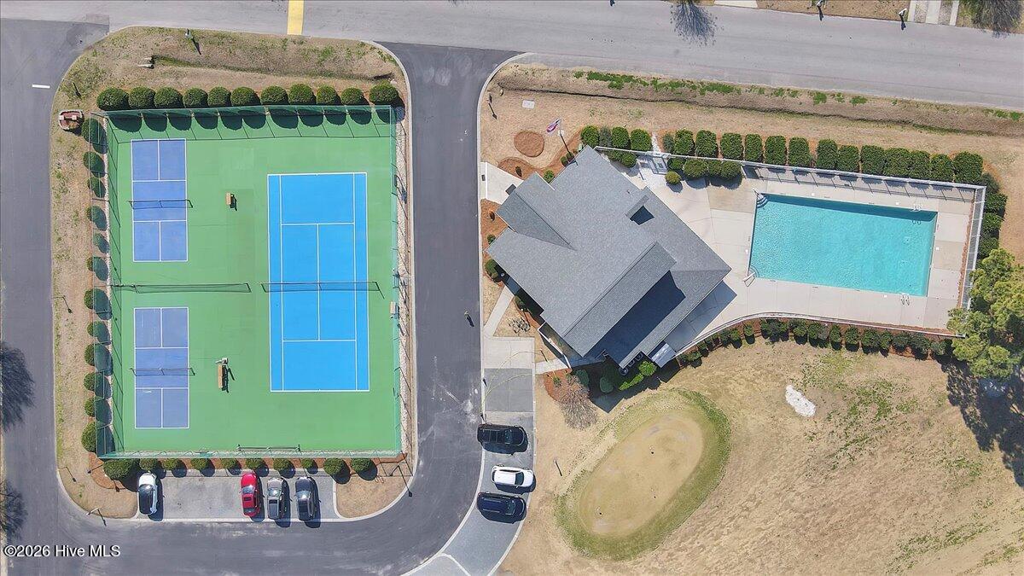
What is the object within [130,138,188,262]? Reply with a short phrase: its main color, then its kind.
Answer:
blue sports court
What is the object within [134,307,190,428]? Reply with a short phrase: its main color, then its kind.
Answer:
blue sports court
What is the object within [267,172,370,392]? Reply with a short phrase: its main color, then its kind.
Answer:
blue tennis court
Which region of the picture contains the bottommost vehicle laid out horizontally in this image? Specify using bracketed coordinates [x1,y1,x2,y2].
[477,493,525,517]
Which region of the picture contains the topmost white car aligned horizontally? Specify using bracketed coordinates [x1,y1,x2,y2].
[491,466,534,488]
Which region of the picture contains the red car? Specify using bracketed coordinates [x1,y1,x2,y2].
[239,472,261,517]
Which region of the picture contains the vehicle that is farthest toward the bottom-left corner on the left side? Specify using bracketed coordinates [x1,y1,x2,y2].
[137,471,160,514]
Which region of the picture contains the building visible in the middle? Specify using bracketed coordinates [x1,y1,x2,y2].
[486,148,731,369]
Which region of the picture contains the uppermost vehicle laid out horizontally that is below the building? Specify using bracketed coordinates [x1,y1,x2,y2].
[477,425,528,448]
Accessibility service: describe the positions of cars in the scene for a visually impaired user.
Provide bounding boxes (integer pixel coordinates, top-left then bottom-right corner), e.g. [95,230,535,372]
[477,493,525,517]
[239,472,261,517]
[293,475,316,521]
[491,466,534,488]
[477,425,528,448]
[266,476,287,520]
[137,471,160,514]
